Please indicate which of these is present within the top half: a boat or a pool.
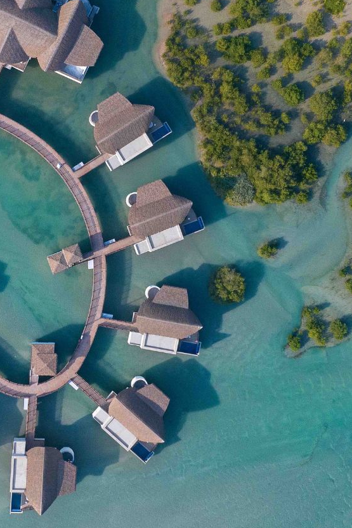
pool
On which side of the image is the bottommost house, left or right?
left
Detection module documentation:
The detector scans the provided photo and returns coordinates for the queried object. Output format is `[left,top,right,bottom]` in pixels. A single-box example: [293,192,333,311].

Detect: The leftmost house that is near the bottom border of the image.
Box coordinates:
[10,434,76,514]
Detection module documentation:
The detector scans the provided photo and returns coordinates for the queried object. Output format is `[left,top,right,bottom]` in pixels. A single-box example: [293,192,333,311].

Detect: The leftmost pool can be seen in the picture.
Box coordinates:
[11,490,25,511]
